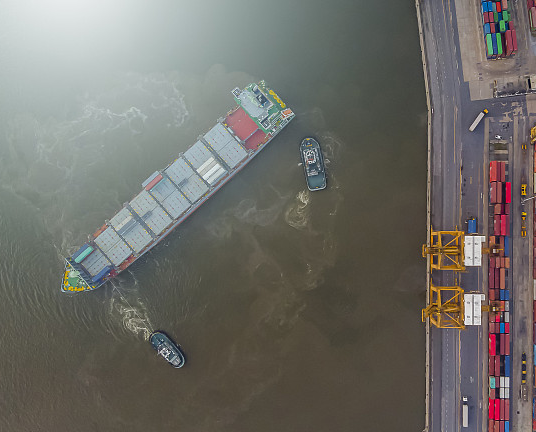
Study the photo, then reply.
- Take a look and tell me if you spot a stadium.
No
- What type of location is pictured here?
port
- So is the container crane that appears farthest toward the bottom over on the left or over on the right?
right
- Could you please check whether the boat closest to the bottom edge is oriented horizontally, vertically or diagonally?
diagonally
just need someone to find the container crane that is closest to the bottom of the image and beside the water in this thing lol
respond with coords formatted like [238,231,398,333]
[419,276,502,327]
